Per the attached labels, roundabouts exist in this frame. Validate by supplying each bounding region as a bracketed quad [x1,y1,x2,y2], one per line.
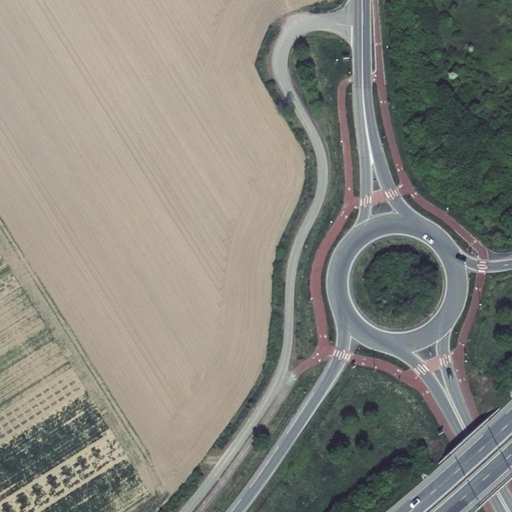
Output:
[326,196,468,368]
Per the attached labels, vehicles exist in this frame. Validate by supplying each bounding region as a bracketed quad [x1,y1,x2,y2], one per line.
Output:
[410,496,420,506]
[455,254,466,260]
[446,368,453,379]
[423,234,434,243]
